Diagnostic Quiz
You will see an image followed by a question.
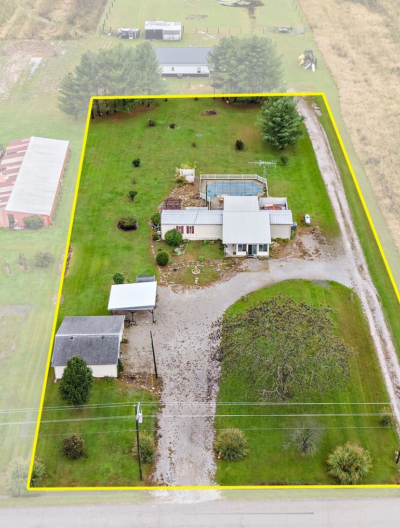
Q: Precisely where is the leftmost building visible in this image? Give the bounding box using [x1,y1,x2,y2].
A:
[0,136,73,227]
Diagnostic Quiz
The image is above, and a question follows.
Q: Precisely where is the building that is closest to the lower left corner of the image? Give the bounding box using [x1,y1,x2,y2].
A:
[52,317,124,378]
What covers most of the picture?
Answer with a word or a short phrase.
grass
